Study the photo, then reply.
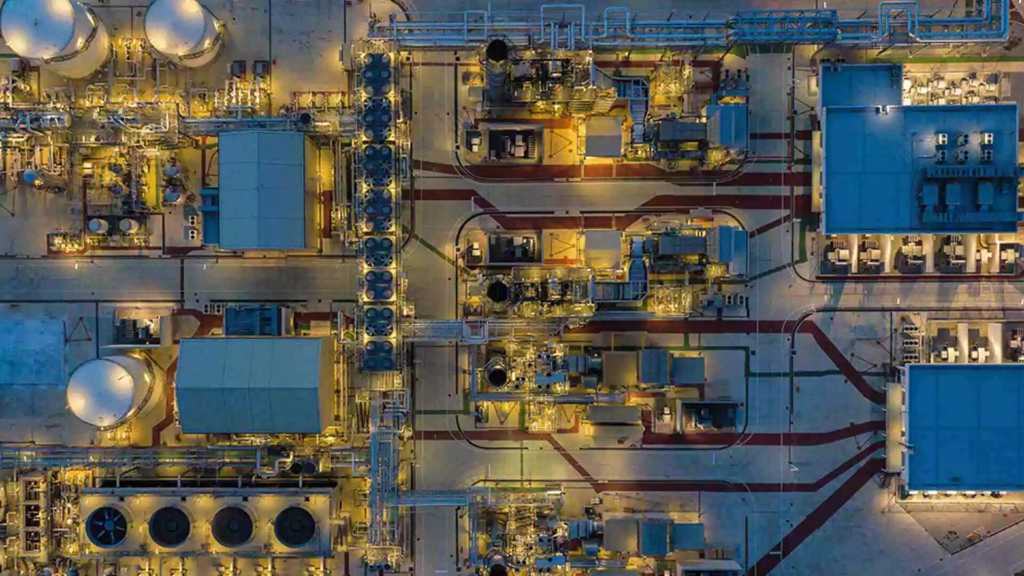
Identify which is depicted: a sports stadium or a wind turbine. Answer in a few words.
wind turbine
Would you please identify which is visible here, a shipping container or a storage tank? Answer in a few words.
storage tank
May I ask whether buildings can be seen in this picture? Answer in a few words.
Yes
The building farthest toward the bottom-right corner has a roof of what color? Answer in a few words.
blue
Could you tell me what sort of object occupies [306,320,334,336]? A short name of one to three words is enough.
shed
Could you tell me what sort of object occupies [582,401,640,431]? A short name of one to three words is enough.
shed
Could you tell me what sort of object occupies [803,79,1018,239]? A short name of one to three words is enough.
building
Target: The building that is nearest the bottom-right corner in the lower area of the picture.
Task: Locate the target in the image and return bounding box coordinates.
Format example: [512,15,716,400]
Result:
[876,360,1024,497]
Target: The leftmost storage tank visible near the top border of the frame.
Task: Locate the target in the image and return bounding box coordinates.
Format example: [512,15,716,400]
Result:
[0,0,110,77]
